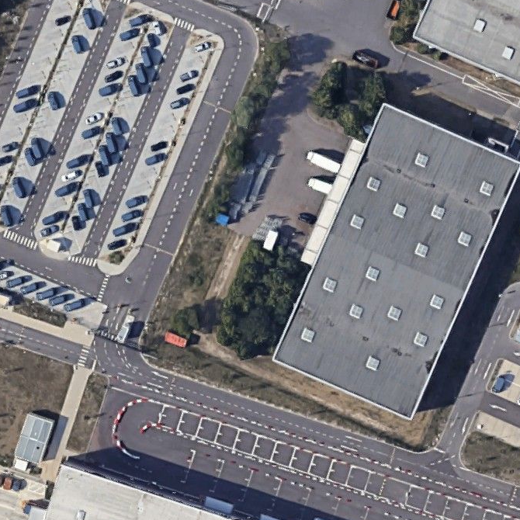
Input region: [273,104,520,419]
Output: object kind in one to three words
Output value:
warehouse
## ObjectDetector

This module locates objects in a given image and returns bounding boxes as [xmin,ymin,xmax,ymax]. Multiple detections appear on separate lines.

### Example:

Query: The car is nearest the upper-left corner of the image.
[54,14,73,27]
